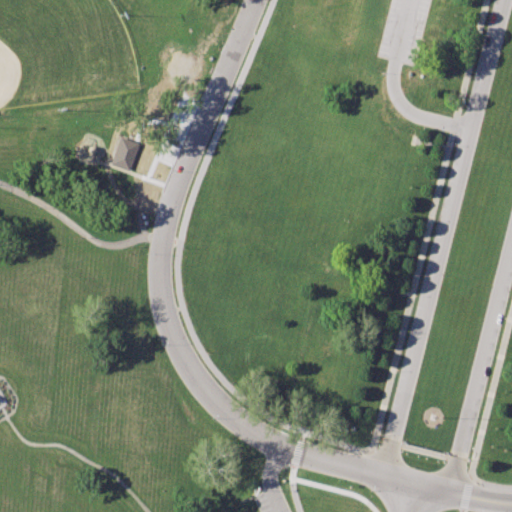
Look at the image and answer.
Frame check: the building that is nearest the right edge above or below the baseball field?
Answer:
below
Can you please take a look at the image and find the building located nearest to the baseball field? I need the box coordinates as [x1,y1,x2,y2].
[112,136,140,170]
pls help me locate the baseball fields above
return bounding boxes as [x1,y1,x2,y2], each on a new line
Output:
[0,0,140,111]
